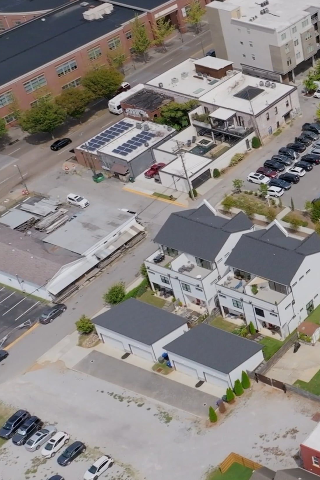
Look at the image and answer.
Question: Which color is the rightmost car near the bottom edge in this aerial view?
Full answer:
In this view, the rightmost car near the bottom edge is white.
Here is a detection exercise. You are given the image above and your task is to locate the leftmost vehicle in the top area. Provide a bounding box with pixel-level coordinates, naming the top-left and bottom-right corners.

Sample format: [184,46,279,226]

[49,140,73,152]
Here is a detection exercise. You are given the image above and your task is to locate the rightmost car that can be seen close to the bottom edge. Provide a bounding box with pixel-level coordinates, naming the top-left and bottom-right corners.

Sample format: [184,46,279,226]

[84,456,115,480]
